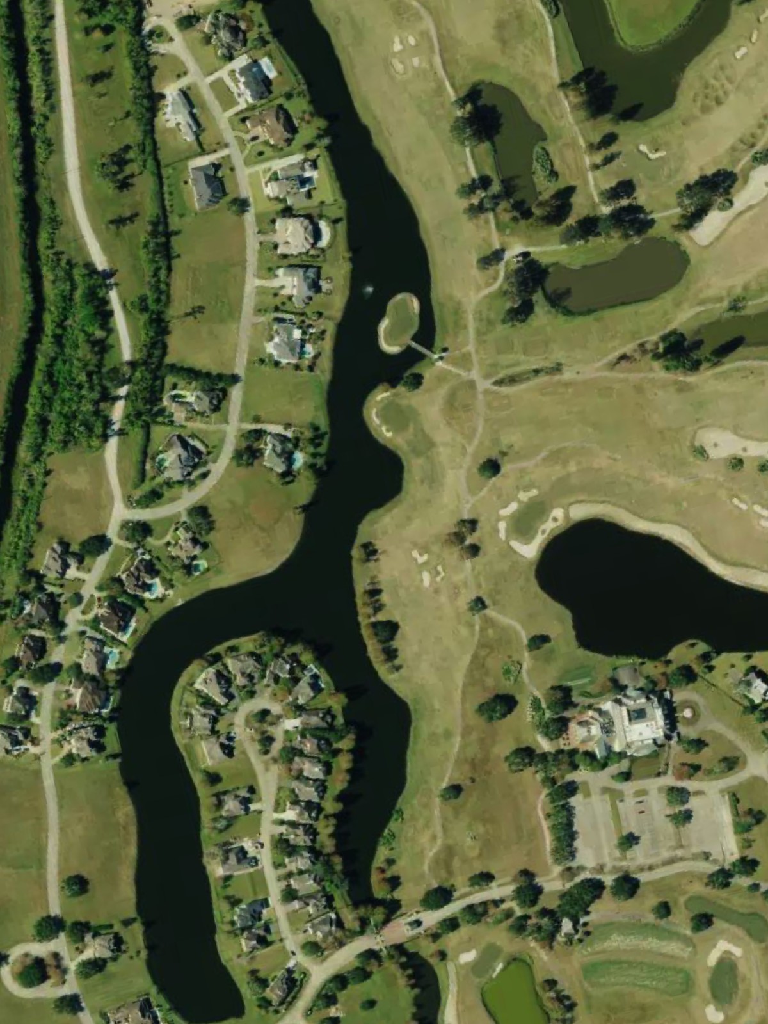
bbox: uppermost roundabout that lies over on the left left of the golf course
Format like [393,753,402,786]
[235,695,286,765]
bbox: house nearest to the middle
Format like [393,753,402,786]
[260,430,298,470]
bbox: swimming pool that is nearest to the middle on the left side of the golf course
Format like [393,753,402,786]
[291,451,303,470]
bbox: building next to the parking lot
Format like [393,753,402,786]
[576,683,672,760]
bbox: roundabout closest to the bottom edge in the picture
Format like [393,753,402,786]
[1,940,73,998]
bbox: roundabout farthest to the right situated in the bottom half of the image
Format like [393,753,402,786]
[667,690,710,734]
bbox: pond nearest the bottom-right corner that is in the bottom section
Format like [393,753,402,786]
[481,957,549,1024]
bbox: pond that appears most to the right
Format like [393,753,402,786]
[695,310,768,351]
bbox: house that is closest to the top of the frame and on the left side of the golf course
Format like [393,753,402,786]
[206,13,248,57]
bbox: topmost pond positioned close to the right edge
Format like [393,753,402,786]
[558,0,732,122]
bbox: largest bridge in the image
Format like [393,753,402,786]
[362,912,432,949]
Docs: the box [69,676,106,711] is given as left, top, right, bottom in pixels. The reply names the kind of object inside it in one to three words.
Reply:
house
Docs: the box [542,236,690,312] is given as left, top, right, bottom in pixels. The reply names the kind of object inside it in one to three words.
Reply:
pond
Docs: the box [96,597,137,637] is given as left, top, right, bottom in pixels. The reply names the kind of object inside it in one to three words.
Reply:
house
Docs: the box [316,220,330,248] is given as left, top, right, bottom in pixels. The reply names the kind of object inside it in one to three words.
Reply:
swimming pool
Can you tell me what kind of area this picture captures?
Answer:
golf course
